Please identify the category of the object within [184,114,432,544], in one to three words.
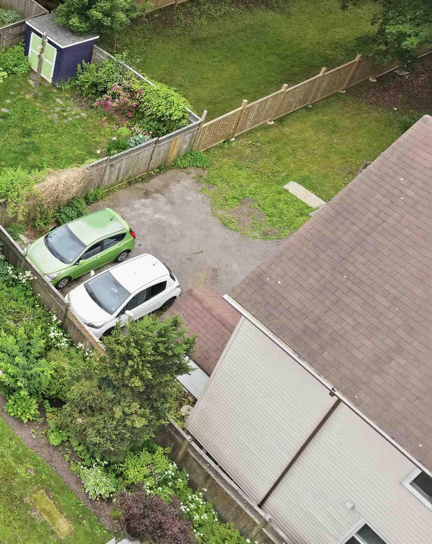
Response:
house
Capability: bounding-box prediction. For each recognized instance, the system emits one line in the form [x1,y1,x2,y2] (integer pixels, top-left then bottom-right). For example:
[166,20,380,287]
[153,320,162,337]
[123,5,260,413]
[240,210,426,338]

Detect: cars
[26,210,138,291]
[67,250,185,338]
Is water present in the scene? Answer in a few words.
No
